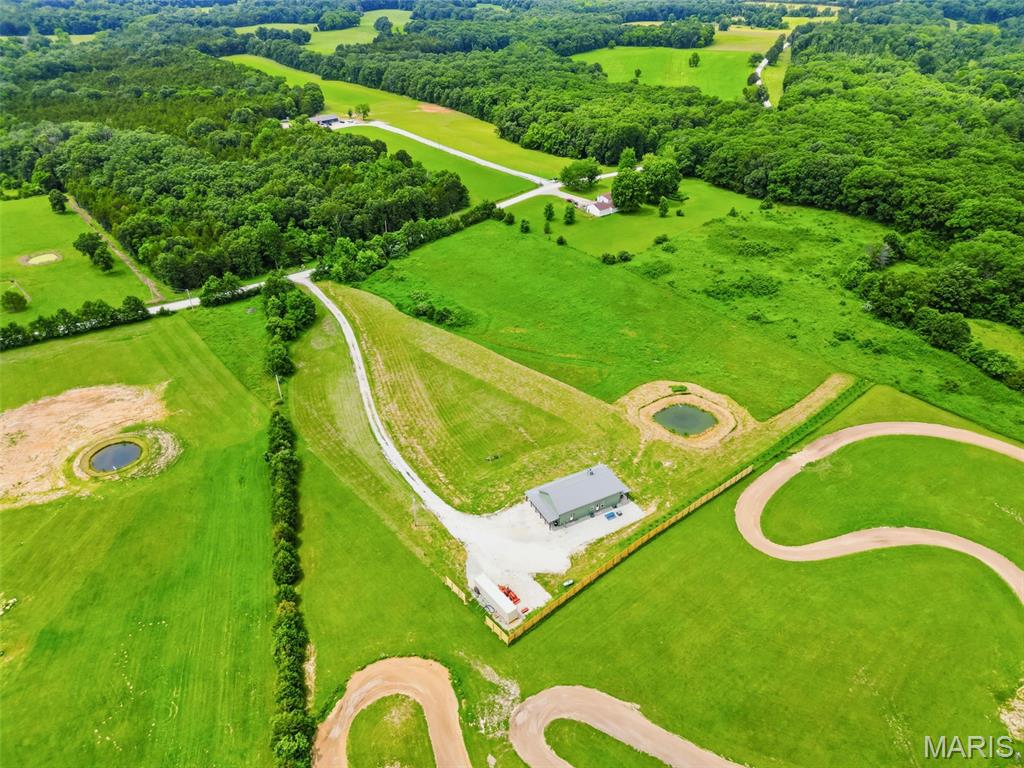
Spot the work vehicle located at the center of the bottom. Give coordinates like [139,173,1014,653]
[500,581,525,605]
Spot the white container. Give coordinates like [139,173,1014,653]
[476,571,520,623]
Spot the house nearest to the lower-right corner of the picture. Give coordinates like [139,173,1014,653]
[524,465,630,531]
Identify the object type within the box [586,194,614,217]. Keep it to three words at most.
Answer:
house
